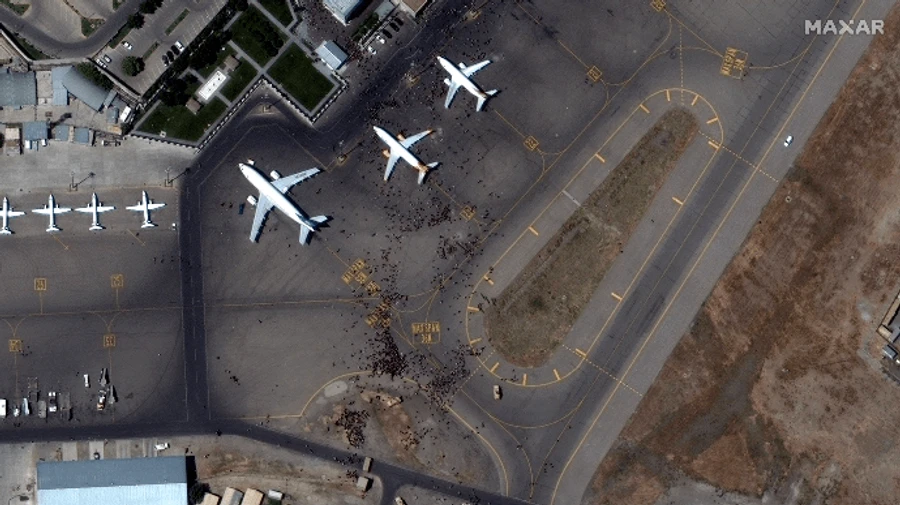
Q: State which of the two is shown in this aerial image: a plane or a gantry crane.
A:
plane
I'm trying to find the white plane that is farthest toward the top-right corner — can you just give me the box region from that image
[435,54,501,112]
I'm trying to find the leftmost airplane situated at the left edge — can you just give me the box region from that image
[0,198,25,233]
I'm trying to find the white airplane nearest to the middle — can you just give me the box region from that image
[374,126,439,183]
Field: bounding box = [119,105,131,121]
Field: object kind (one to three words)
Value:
vehicle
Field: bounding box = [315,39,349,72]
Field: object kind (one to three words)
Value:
shed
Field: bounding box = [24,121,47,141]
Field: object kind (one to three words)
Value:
shed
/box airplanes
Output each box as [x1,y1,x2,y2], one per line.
[435,54,501,112]
[374,126,439,183]
[75,193,114,228]
[239,162,330,245]
[0,198,25,233]
[31,195,71,228]
[124,191,164,226]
